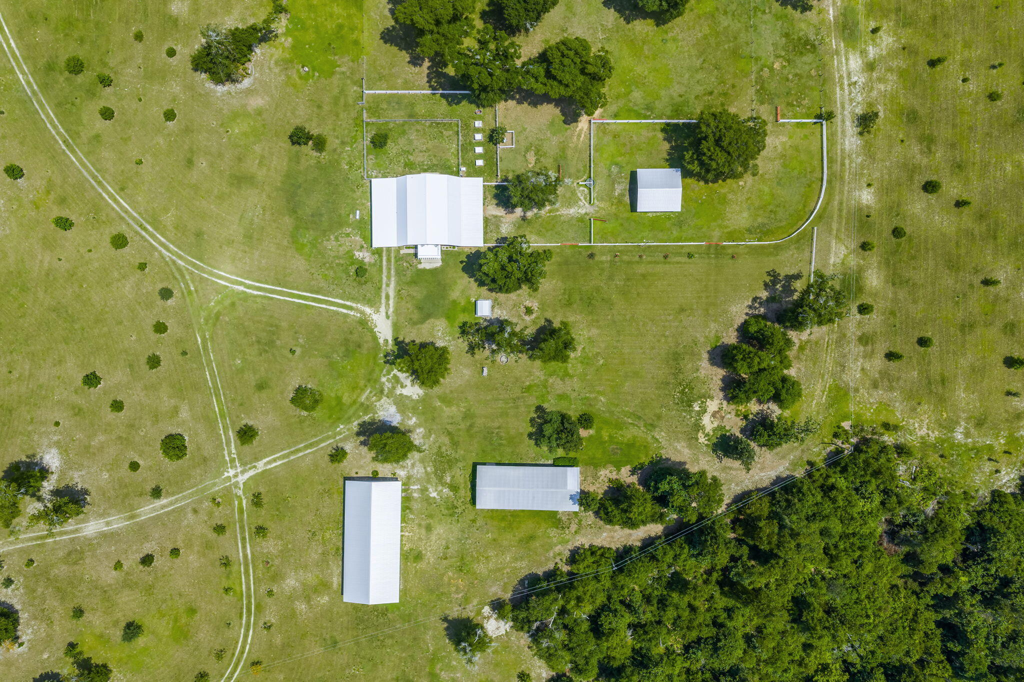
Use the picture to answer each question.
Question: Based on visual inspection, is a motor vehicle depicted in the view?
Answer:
No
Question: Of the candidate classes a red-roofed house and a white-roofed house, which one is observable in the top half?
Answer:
white-roofed house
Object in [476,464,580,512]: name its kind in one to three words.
building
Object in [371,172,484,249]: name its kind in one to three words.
house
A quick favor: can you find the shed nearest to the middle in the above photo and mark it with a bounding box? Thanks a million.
[474,299,492,317]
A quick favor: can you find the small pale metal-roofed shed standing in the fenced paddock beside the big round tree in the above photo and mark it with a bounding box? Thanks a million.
[636,168,683,213]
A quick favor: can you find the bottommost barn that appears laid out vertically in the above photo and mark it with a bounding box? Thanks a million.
[343,479,403,605]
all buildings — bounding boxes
[636,168,683,213]
[474,299,492,317]
[371,172,484,249]
[476,464,580,512]
[343,479,403,605]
